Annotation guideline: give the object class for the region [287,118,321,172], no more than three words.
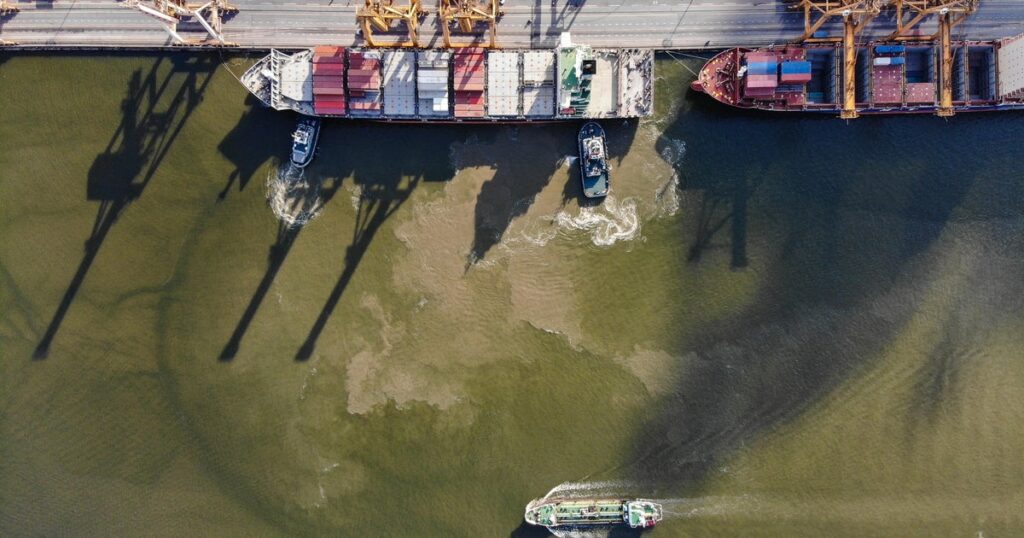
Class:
boat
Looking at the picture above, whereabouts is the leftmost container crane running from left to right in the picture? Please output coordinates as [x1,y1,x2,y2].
[129,0,239,46]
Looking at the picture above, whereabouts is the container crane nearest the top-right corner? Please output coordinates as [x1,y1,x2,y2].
[871,0,980,127]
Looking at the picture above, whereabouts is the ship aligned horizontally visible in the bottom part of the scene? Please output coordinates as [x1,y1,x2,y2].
[527,498,662,532]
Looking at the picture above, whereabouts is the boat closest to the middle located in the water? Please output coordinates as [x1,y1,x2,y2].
[577,122,612,199]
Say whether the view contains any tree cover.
No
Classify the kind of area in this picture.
port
